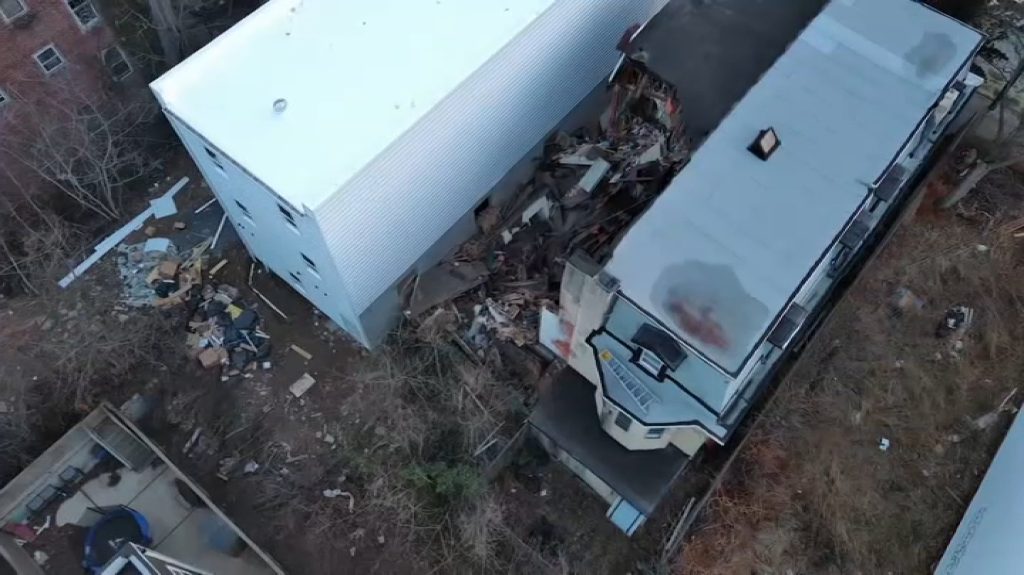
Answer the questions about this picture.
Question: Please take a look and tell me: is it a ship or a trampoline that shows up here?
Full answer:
It is a trampoline that can be seen here.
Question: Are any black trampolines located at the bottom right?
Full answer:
No, the scene shows no black trampoline at the bottom right.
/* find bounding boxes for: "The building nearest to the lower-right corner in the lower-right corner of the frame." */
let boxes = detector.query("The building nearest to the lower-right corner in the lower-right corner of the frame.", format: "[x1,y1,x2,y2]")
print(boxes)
[934,403,1024,575]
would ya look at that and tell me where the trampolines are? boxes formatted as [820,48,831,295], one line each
[81,501,157,574]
